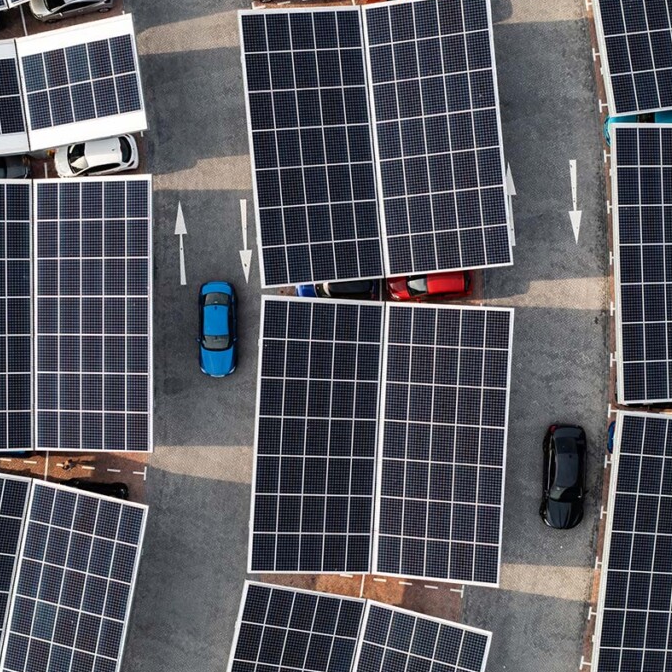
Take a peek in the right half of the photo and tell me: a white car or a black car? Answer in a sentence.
What appears in the right half of the photo is a black car.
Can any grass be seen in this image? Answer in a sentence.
No, no grass is visible.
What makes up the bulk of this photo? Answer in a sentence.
The bulk of the photo consists of buildings.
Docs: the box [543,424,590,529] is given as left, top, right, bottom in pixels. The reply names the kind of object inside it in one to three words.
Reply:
car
